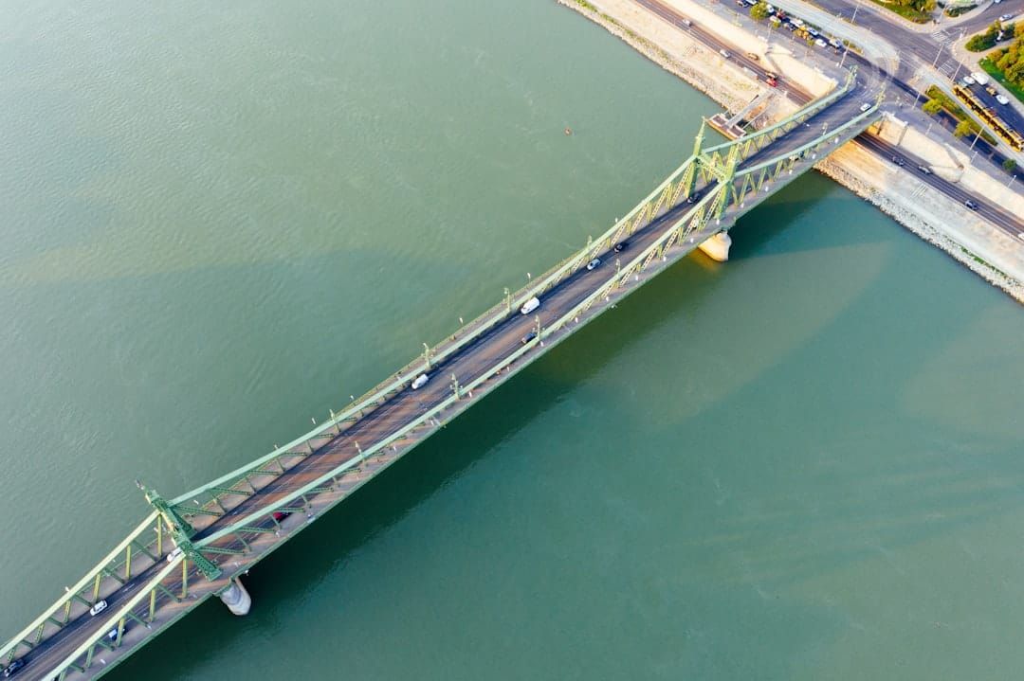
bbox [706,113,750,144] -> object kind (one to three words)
pier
